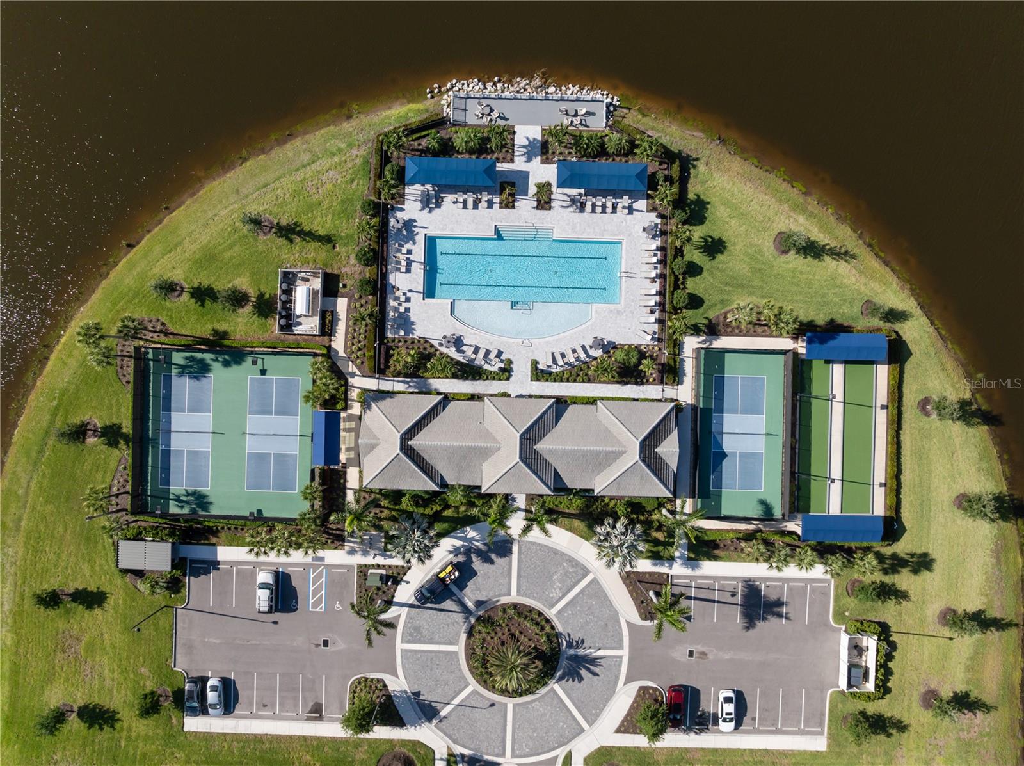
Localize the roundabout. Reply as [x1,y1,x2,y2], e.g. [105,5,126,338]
[390,531,635,766]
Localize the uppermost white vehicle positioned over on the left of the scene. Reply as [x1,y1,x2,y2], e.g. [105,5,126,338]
[256,569,278,614]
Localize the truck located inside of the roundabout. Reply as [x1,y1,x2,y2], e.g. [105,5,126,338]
[416,558,464,603]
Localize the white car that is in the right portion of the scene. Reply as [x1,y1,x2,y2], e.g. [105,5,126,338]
[717,689,737,732]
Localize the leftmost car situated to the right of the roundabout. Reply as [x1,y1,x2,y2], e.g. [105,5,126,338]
[666,686,686,727]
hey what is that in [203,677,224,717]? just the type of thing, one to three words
car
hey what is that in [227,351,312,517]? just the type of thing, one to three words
sports court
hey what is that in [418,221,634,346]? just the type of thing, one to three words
swimming pool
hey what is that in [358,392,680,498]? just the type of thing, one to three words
building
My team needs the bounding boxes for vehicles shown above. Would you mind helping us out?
[180,675,202,717]
[717,689,737,732]
[416,558,464,603]
[666,686,686,727]
[256,569,278,614]
[203,677,224,717]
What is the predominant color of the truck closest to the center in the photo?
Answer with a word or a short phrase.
black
